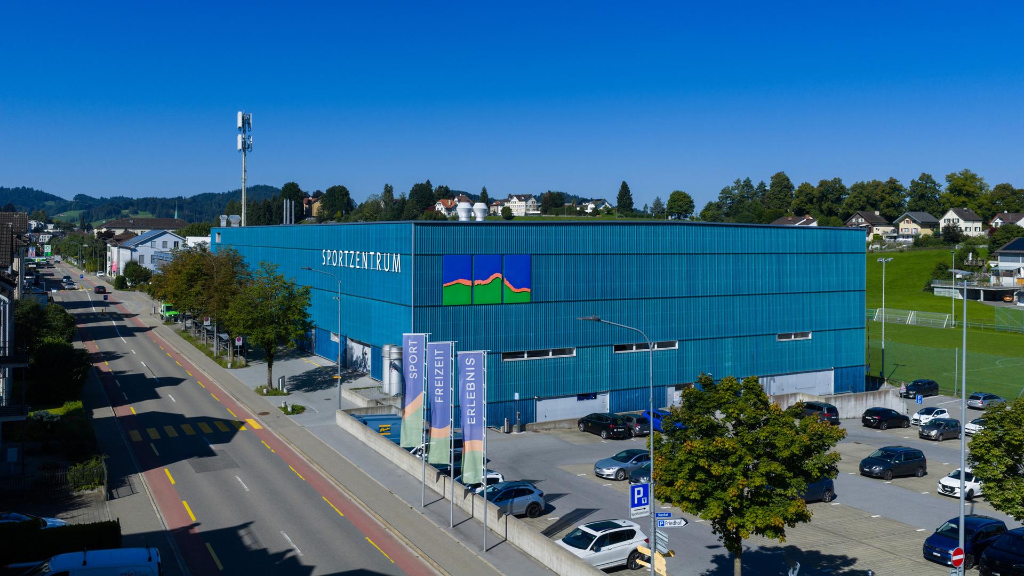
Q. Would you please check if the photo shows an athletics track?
No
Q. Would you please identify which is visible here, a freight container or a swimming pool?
freight container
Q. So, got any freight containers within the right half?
No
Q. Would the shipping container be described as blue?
Yes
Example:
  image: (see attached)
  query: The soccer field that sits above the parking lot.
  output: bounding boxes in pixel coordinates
[863,324,1024,400]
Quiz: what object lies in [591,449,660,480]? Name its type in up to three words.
car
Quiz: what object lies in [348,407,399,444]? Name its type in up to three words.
shipping container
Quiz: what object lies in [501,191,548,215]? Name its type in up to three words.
house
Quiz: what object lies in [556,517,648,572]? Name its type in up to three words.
car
